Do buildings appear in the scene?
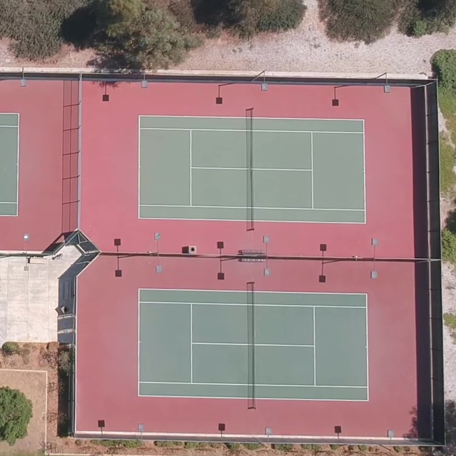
No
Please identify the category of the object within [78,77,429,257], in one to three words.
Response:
tennis court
